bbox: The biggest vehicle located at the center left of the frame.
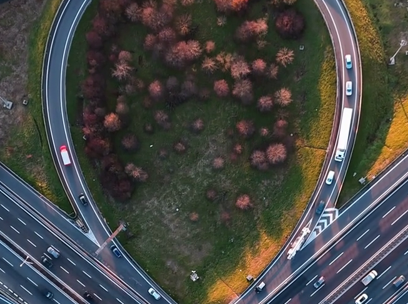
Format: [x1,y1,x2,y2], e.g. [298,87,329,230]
[57,147,70,167]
